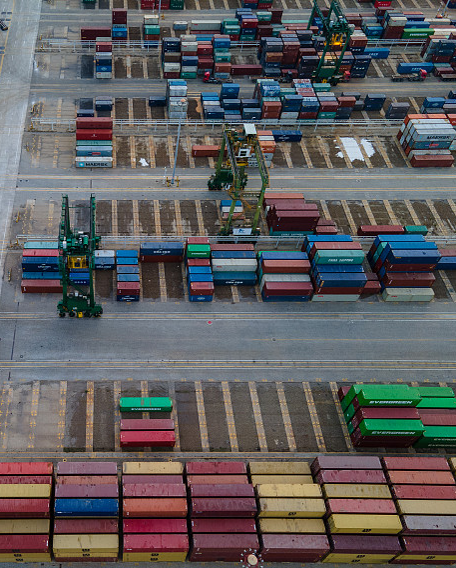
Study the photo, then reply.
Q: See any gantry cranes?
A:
Yes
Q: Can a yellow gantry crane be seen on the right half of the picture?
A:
No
